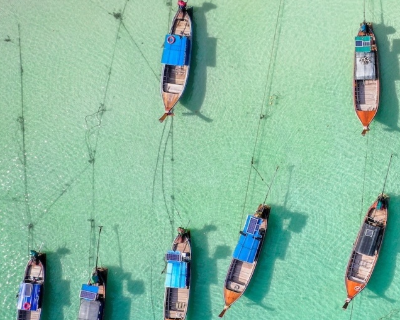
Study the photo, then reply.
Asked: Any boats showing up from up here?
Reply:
Yes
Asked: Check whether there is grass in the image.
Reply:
No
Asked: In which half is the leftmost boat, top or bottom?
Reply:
bottom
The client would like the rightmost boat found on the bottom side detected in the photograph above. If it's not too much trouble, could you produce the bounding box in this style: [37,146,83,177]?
[342,155,392,311]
